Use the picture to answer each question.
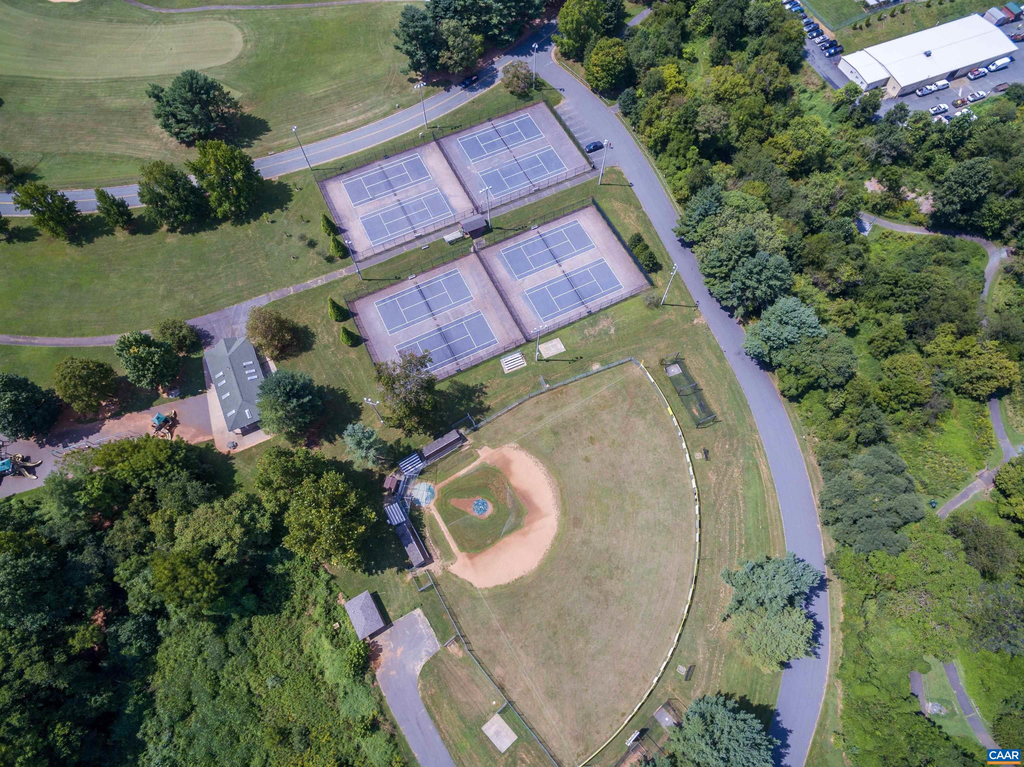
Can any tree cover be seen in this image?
Yes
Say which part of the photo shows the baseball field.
bottom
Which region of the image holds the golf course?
top left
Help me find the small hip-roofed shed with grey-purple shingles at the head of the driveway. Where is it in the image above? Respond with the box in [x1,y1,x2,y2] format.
[345,590,385,638]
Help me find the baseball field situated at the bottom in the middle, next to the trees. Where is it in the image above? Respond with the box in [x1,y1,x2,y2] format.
[407,361,698,767]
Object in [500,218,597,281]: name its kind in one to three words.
tennis court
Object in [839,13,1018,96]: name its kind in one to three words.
building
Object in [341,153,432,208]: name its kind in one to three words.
tennis court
